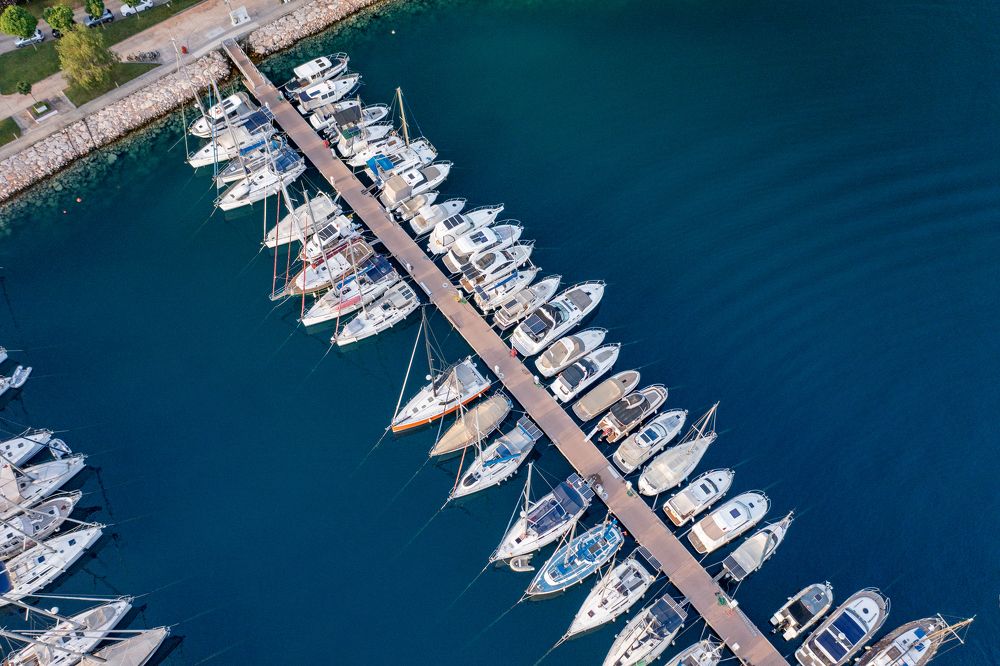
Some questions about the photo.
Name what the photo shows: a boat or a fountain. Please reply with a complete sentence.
There is a boat in the scene.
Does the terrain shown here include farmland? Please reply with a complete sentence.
No, farmland can't be seen anywhere here.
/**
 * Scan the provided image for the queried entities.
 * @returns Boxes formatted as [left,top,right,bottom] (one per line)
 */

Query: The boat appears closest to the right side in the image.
[848,615,973,666]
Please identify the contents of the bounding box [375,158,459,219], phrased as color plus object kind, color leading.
white boat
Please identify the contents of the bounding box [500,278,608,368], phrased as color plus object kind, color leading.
white boat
